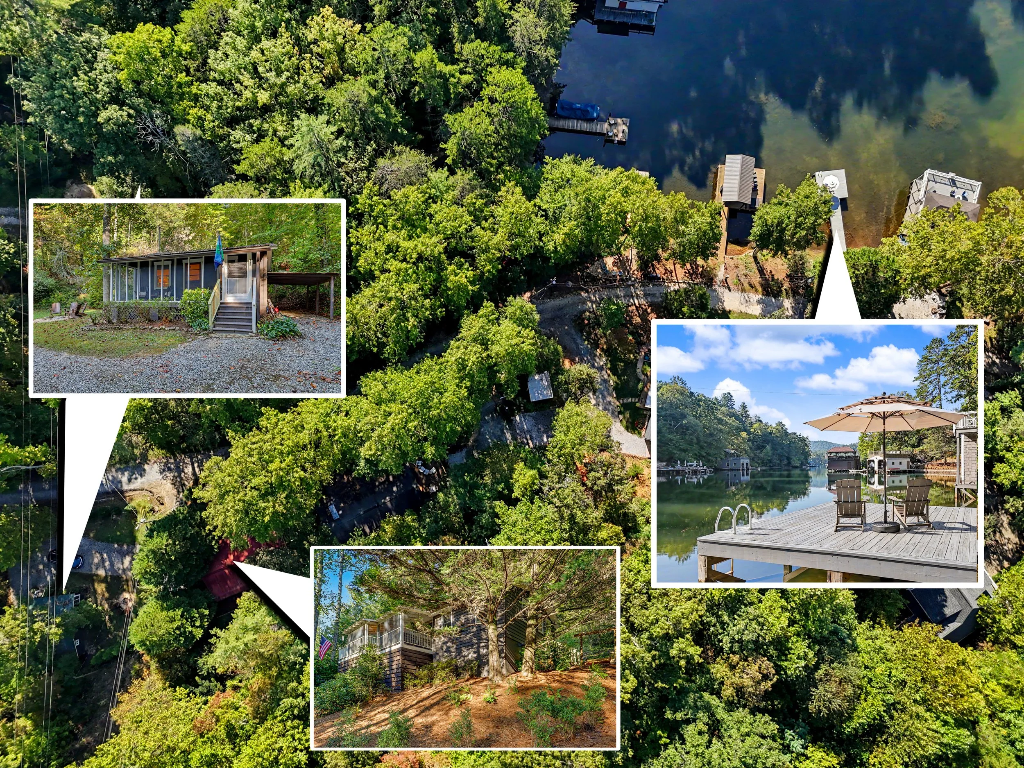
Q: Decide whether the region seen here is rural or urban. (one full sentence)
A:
This place is rural.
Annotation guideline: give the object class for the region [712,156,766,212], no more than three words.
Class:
building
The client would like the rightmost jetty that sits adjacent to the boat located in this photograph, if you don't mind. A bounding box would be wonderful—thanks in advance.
[605,113,628,144]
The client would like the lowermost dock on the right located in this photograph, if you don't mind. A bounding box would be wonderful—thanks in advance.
[814,169,849,202]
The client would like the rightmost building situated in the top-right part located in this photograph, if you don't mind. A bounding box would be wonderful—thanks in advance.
[888,169,981,229]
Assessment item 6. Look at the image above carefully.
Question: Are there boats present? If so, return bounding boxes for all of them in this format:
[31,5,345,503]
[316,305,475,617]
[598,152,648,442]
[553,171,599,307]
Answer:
[553,101,599,120]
